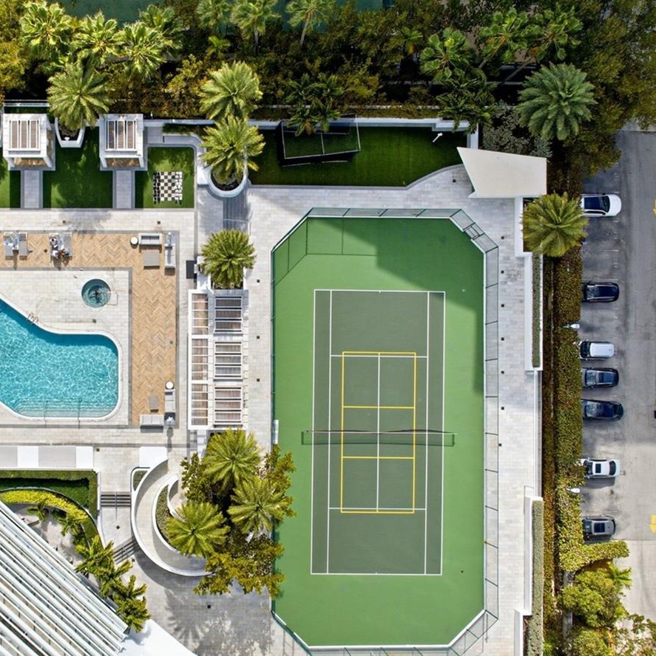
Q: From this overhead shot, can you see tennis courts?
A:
Yes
